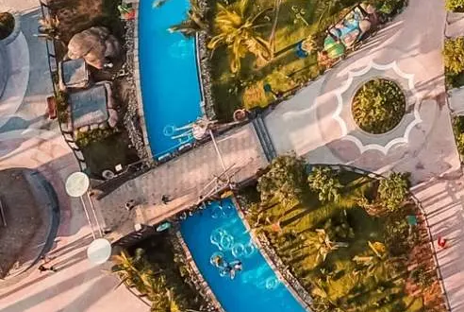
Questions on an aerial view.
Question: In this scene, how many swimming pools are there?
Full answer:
No swimming pools are visible.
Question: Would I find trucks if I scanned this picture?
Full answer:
No, I can see no truck in this picture.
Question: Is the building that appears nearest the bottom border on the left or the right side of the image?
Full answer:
The building that appears nearest the bottom border is on the left side of the image.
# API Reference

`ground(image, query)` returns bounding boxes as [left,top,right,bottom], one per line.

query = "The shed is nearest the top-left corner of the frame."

[57,59,93,89]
